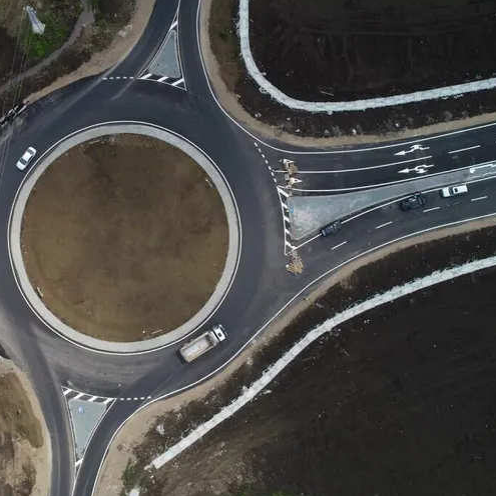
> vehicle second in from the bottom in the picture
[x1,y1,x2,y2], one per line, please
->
[319,219,343,237]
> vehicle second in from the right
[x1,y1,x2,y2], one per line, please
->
[399,193,427,210]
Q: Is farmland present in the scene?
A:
Yes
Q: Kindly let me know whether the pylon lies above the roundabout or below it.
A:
above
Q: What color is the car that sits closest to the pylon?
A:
white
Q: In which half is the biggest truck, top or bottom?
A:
bottom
